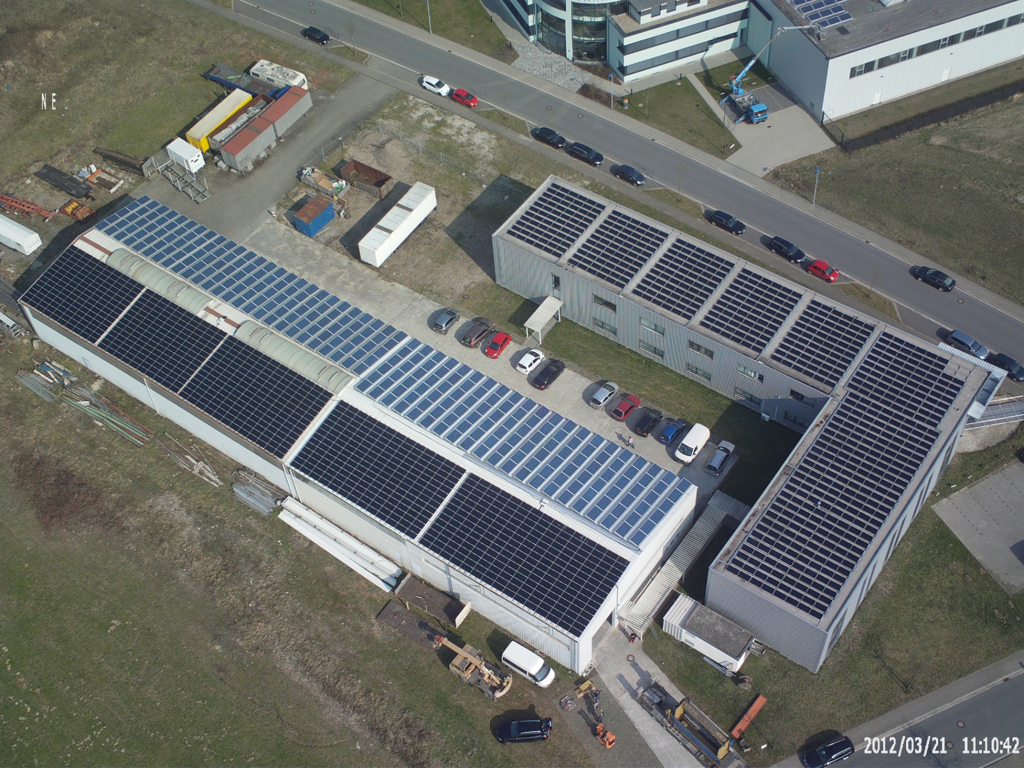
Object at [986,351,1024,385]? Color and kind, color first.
black car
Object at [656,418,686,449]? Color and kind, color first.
blue car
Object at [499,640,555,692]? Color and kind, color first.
white van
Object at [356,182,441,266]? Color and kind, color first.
white trailer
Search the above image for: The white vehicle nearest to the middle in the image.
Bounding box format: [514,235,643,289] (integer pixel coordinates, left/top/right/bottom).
[514,347,546,377]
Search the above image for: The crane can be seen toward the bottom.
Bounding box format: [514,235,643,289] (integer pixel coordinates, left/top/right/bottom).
[434,634,510,697]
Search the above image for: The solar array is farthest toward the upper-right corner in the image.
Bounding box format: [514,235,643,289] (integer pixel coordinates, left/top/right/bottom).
[789,0,852,29]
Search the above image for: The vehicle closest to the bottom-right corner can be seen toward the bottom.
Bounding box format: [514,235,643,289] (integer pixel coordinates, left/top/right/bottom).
[800,732,858,768]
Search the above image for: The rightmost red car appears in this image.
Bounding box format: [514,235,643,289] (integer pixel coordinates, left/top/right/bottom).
[806,259,840,285]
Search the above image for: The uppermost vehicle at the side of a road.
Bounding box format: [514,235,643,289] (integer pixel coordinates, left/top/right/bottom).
[301,25,334,48]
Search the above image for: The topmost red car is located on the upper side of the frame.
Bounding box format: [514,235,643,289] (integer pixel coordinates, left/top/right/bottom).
[450,88,480,109]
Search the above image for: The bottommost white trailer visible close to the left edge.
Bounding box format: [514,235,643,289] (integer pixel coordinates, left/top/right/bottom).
[0,215,42,257]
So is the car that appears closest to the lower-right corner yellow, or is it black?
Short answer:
black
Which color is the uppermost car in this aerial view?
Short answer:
black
